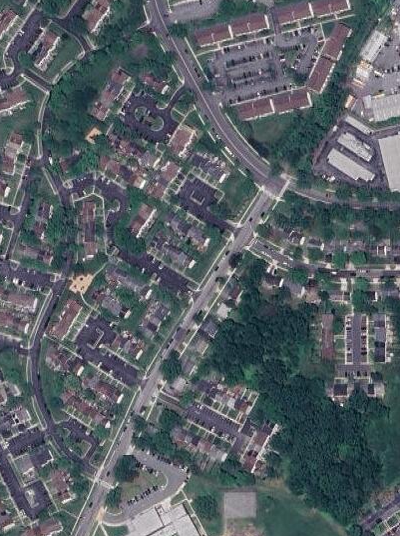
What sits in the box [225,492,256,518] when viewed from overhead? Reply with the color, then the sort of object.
gray sports court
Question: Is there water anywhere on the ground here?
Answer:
No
